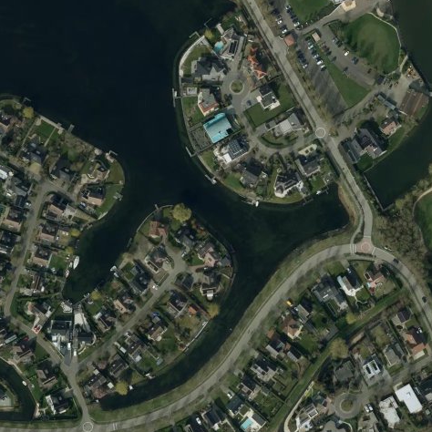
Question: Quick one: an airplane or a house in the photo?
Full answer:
Visible in the photo is a house.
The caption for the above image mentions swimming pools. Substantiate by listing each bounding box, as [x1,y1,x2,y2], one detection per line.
[213,40,223,51]
[239,416,254,430]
